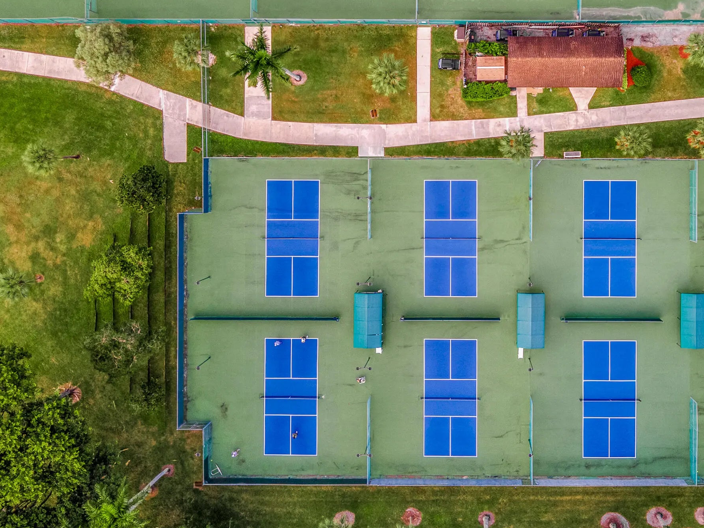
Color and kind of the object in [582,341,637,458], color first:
blue sports court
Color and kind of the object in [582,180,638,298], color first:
blue sports court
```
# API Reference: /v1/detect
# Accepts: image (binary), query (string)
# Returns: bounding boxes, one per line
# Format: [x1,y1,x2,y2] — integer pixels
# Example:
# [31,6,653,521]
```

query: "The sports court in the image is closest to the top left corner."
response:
[265,179,321,297]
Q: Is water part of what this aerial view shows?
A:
No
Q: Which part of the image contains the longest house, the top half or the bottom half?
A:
top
